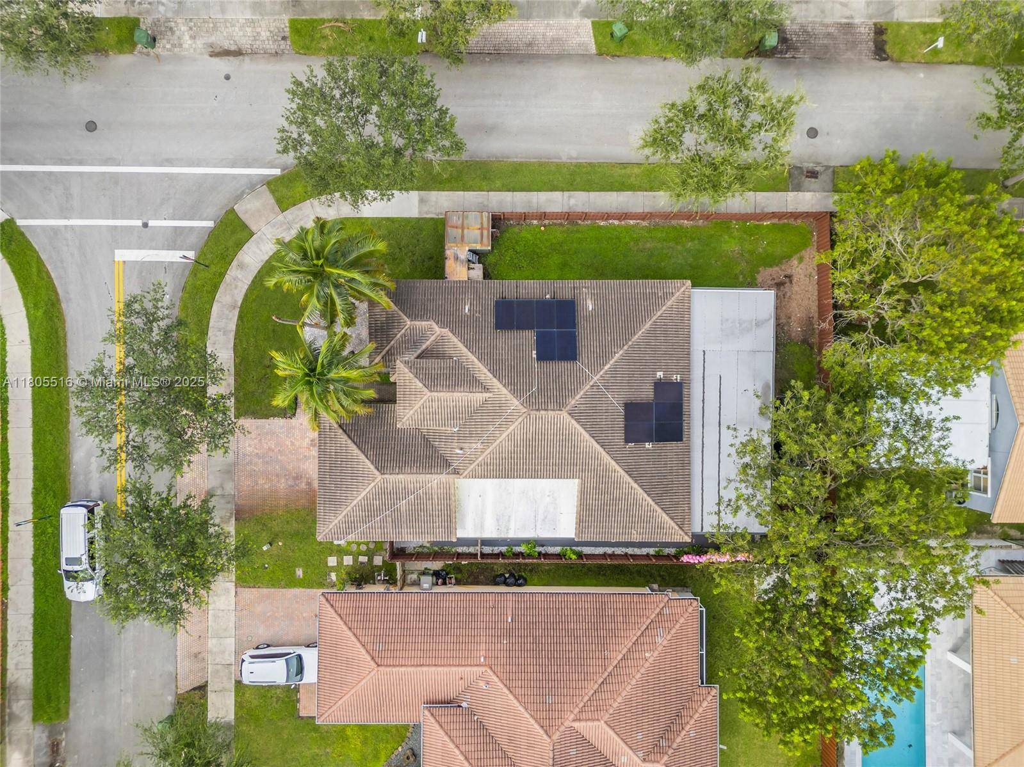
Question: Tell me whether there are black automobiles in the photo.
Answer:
No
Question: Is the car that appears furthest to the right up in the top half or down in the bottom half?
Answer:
bottom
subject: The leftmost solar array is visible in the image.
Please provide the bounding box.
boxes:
[496,295,577,363]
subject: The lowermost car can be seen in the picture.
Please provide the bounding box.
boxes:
[238,642,316,690]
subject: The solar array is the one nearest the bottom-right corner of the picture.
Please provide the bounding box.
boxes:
[624,374,683,446]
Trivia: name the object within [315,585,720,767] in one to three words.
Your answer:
house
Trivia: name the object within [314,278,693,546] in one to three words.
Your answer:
house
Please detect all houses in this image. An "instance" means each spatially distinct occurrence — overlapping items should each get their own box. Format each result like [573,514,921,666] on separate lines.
[953,575,1024,767]
[314,278,693,546]
[954,326,1024,521]
[315,585,720,767]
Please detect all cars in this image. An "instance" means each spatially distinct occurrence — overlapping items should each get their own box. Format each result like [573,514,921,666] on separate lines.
[238,642,316,690]
[58,496,113,604]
